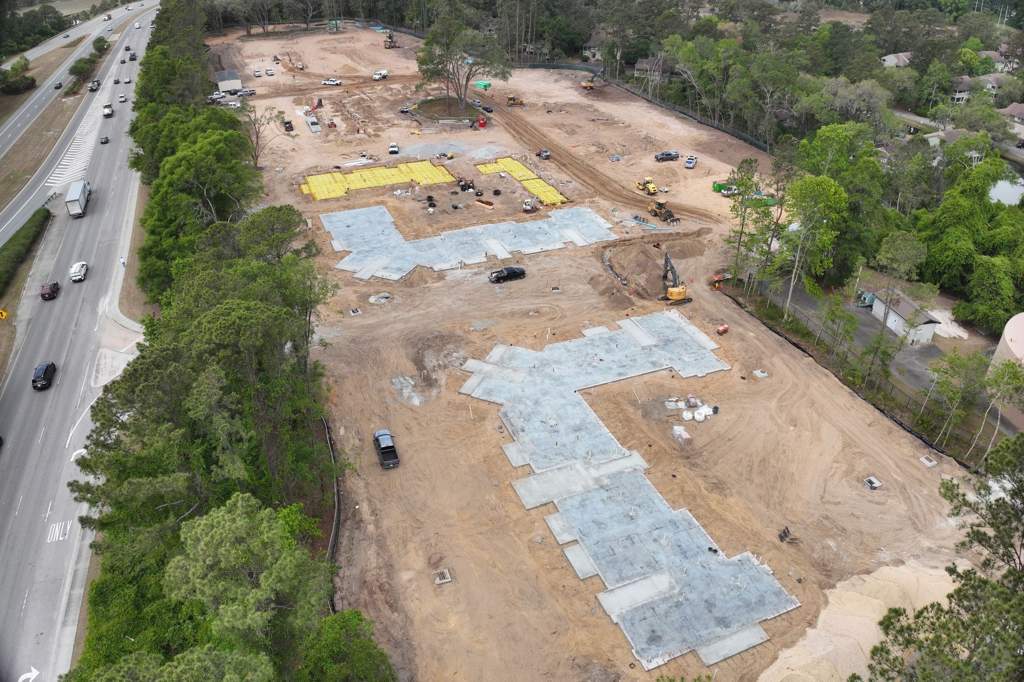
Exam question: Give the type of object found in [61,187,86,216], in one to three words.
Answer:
truck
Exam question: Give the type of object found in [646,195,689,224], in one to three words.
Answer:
work vehicle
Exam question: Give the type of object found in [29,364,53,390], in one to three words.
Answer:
car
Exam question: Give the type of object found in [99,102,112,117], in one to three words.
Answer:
vehicle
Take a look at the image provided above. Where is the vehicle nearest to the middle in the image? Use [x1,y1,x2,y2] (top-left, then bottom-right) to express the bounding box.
[489,265,526,281]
